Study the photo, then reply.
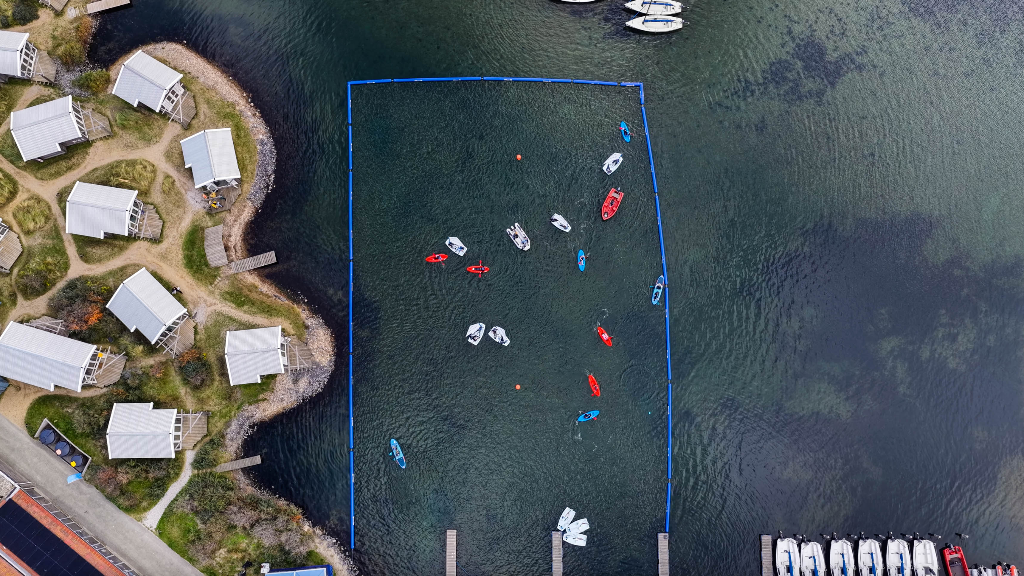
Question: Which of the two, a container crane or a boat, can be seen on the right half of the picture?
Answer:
boat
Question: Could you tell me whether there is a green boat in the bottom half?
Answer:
No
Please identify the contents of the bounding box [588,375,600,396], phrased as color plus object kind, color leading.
red boat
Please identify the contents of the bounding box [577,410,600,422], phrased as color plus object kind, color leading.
blue boat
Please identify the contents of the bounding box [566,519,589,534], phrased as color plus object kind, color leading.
white boat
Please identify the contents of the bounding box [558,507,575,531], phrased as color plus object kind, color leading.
white boat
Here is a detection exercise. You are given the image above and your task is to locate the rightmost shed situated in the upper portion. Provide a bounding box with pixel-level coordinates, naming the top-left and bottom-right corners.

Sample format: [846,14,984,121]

[180,128,250,217]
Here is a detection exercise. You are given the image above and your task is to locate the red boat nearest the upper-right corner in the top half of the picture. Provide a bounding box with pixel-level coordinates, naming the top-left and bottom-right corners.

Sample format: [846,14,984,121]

[602,186,624,221]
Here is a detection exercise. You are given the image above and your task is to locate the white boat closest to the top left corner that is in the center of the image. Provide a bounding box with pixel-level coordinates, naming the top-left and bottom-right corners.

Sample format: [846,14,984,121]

[445,237,467,256]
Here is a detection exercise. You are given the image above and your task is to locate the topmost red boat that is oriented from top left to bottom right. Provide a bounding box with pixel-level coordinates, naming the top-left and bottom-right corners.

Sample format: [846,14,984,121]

[597,327,612,347]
